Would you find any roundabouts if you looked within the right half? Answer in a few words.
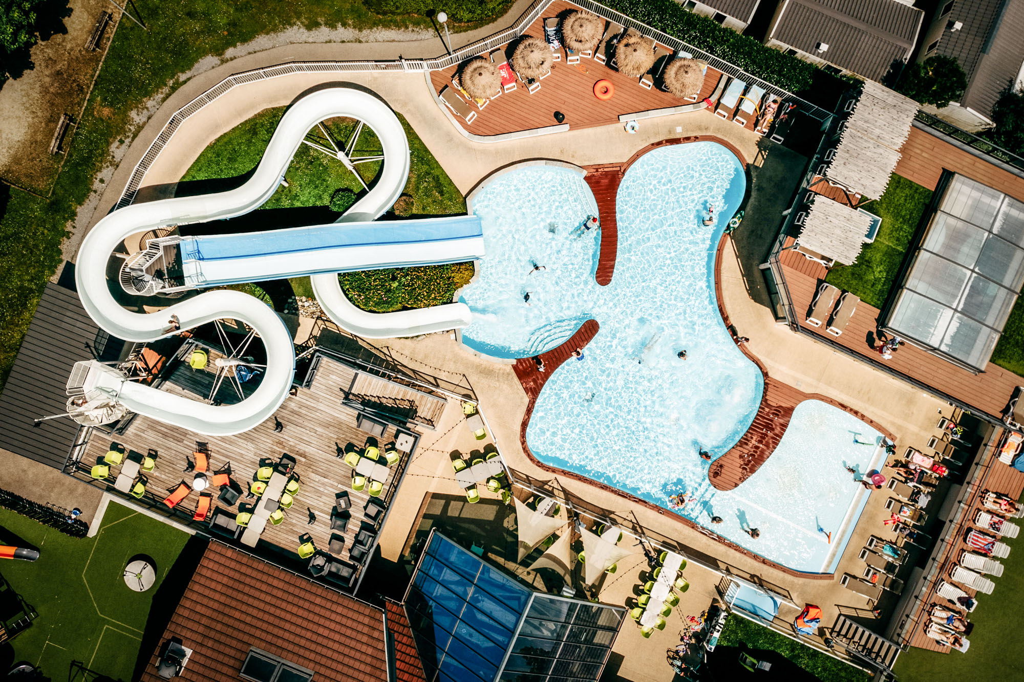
No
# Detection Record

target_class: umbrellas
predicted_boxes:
[557,12,603,59]
[659,57,704,104]
[458,59,504,106]
[508,37,555,83]
[609,35,655,82]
